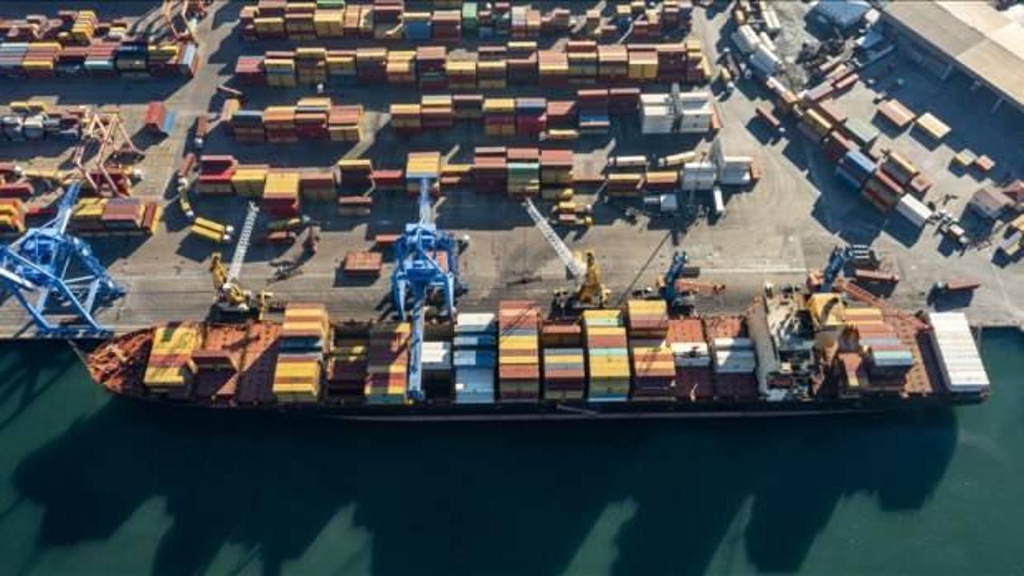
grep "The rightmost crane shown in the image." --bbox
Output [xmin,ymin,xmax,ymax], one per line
[800,244,929,328]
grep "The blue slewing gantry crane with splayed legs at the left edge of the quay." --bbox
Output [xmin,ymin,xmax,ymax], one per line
[0,180,134,332]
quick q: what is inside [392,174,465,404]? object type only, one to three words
container crane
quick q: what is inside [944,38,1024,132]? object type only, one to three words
building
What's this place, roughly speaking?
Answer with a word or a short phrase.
port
